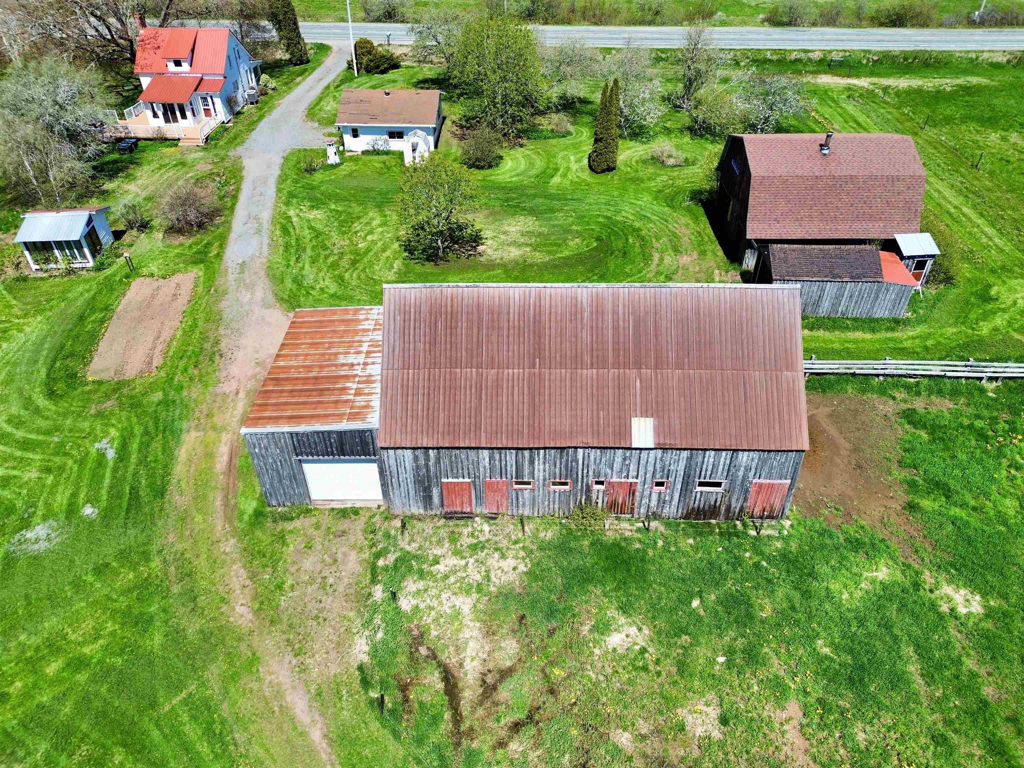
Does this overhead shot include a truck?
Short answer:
No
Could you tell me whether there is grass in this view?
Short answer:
Yes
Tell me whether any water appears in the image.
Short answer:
No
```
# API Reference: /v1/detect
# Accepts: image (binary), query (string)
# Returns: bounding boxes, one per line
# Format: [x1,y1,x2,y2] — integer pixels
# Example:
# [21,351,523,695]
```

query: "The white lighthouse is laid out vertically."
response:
[327,139,340,165]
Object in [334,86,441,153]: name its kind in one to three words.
house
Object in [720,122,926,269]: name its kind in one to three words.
barn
